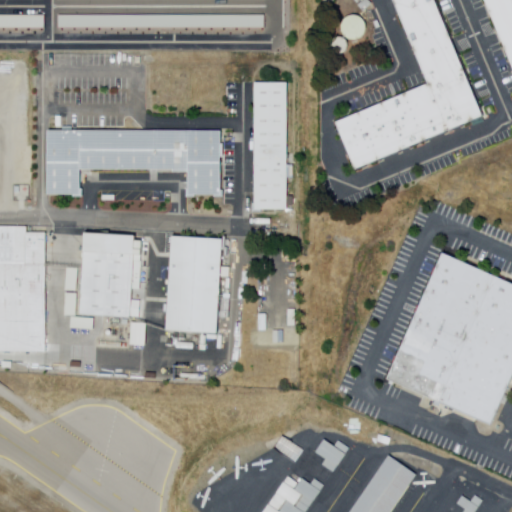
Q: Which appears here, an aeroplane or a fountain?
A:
aeroplane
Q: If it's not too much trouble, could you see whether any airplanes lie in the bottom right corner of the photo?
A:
Yes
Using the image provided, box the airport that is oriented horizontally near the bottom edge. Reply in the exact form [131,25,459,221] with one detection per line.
[0,383,512,512]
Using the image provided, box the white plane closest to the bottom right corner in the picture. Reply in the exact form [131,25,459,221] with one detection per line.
[412,470,436,488]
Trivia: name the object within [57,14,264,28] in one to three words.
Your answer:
building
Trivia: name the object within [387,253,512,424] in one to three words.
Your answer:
building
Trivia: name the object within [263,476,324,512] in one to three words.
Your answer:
hangar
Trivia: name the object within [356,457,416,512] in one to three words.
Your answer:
hangar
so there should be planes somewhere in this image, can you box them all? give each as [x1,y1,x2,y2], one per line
[232,456,249,480]
[208,466,226,485]
[252,459,273,474]
[195,488,210,508]
[412,470,436,488]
